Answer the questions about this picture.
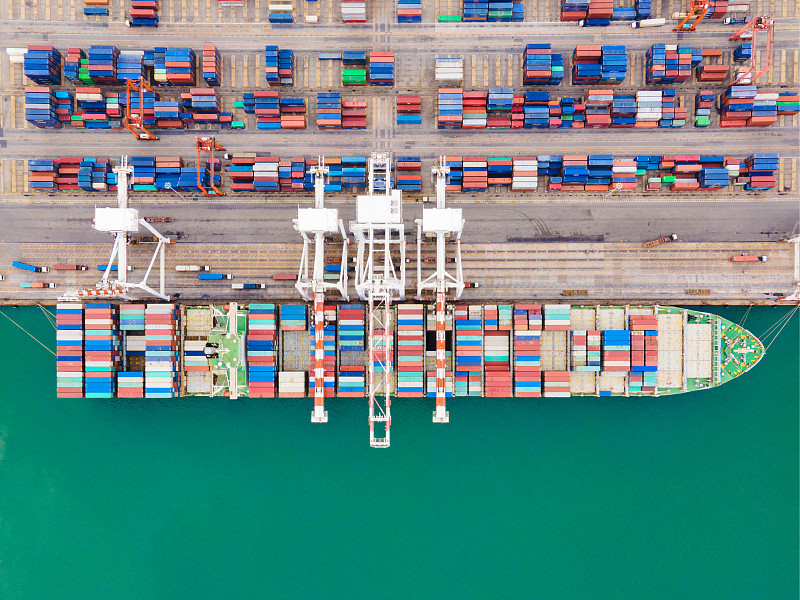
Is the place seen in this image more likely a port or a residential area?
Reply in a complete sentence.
The picture captures a port.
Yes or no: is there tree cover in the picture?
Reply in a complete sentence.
No, there is no tree cover in the image.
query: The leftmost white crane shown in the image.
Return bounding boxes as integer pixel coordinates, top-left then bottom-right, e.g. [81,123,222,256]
[47,154,179,299]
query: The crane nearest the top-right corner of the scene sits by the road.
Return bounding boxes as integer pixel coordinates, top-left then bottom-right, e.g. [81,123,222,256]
[730,14,773,85]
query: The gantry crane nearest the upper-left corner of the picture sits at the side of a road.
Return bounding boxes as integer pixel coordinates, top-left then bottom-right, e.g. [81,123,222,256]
[123,73,160,140]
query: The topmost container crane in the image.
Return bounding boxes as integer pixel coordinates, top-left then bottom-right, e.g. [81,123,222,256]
[673,0,712,32]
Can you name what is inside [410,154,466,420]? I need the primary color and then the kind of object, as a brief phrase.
white container crane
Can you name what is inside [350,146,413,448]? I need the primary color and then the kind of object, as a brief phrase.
white container crane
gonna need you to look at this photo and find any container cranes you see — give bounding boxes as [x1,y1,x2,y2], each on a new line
[410,154,466,420]
[294,154,354,420]
[123,73,160,140]
[350,146,413,448]
[730,14,773,85]
[194,133,227,195]
[673,0,712,32]
[47,154,179,299]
